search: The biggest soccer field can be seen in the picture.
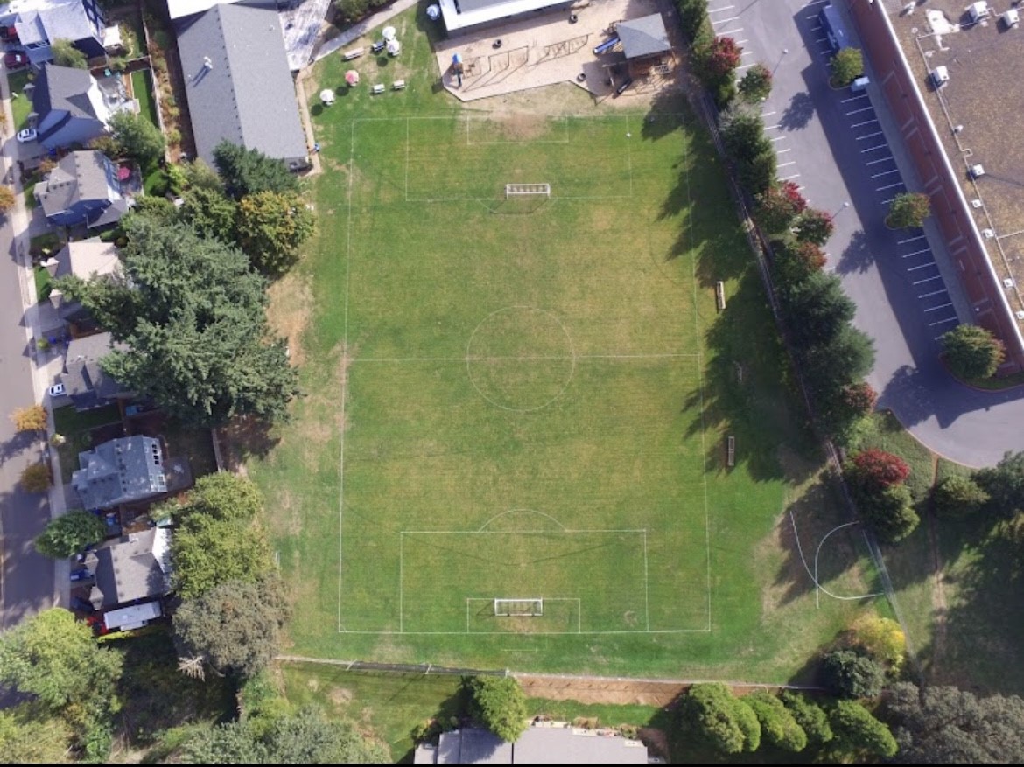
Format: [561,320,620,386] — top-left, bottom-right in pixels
[335,111,714,636]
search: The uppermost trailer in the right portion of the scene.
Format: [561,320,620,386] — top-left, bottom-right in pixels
[824,1,854,44]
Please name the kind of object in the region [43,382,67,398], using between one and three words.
car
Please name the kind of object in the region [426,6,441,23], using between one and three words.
umbrella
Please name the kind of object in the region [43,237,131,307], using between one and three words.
house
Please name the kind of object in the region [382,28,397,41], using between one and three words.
umbrella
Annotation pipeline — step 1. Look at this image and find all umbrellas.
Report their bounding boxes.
[321,89,335,104]
[382,28,397,41]
[387,39,401,54]
[426,6,441,23]
[346,71,360,87]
